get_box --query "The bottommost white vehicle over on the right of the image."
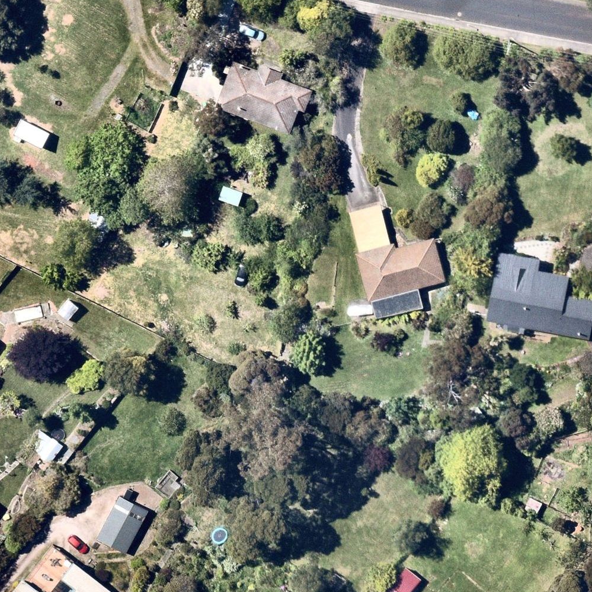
[348,304,373,318]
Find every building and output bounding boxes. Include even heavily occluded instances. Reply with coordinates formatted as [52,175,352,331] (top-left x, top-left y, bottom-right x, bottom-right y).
[219,188,242,207]
[14,118,49,150]
[14,304,42,323]
[58,297,79,320]
[355,239,446,319]
[219,64,312,134]
[525,496,542,513]
[12,544,113,592]
[36,429,63,462]
[98,493,149,554]
[393,566,421,592]
[488,252,592,340]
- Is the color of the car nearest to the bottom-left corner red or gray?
red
